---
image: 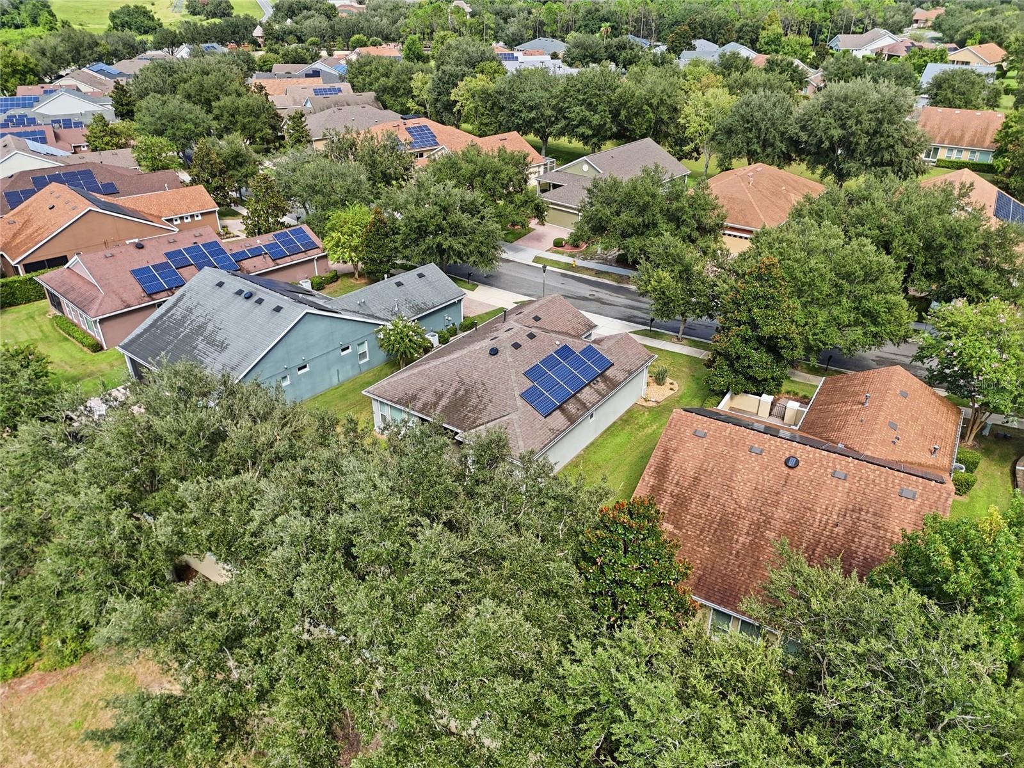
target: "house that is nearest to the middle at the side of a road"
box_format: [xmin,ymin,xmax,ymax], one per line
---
[368,293,658,480]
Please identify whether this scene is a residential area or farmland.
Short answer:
residential area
